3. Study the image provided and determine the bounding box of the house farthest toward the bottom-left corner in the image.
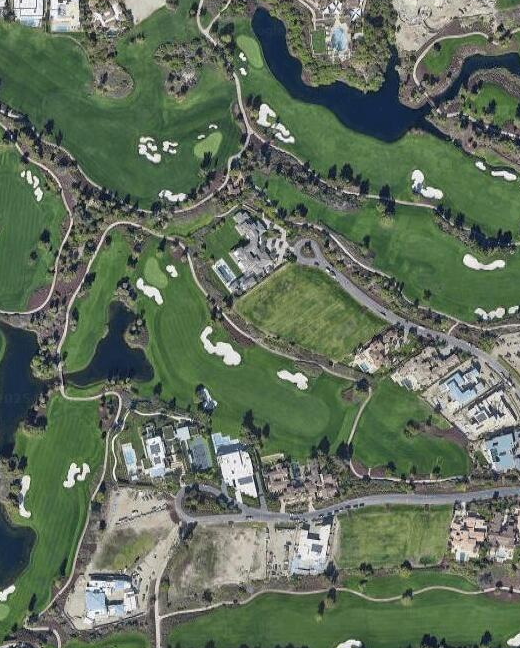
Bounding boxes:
[82,580,136,626]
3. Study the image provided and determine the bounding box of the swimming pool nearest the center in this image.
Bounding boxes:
[212,259,236,290]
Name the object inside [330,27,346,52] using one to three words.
swimming pool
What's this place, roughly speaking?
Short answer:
golf course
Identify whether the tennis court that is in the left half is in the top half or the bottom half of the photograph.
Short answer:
bottom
